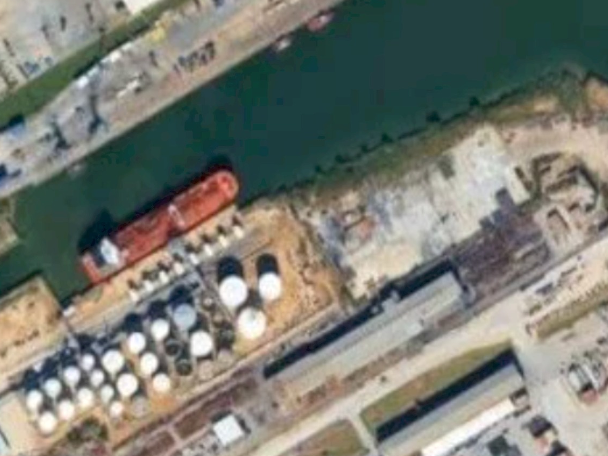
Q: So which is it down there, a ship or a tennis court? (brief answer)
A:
ship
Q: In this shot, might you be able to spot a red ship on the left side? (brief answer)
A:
Yes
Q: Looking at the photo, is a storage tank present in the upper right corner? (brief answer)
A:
No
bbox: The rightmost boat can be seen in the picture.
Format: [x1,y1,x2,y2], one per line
[306,15,330,32]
